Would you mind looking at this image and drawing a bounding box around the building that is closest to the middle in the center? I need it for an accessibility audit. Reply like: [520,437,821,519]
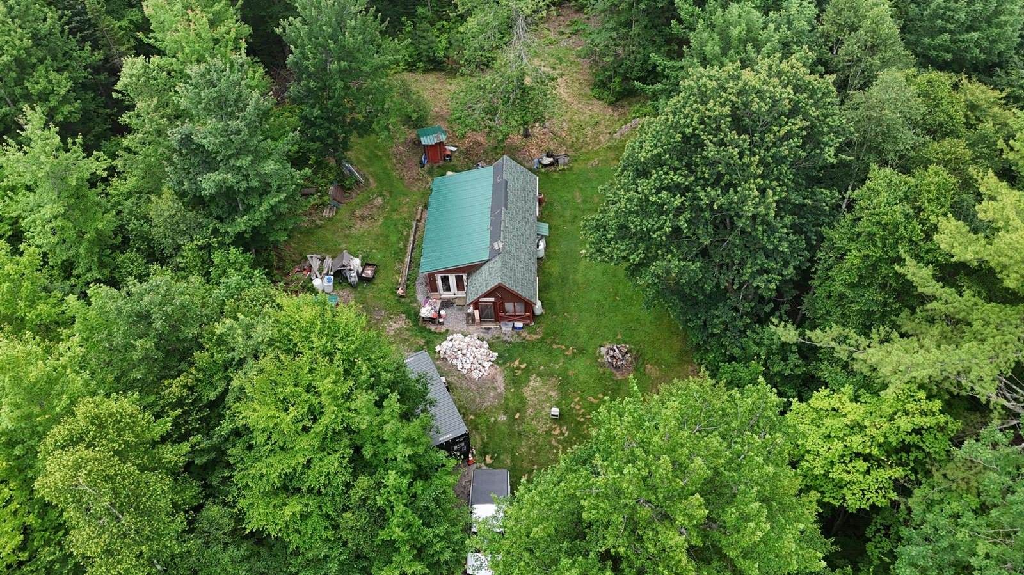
[420,156,546,334]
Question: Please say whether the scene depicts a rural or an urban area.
rural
